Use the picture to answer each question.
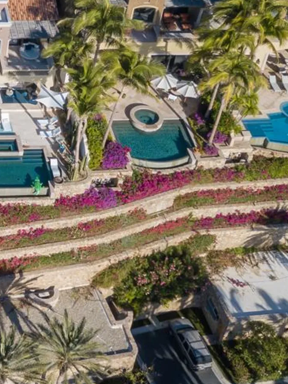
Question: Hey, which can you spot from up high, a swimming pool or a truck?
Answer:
swimming pool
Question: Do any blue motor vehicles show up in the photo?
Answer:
No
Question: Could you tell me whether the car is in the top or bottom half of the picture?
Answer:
bottom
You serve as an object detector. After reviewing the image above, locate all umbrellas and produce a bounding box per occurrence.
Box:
[147,76,179,108]
[173,82,202,114]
